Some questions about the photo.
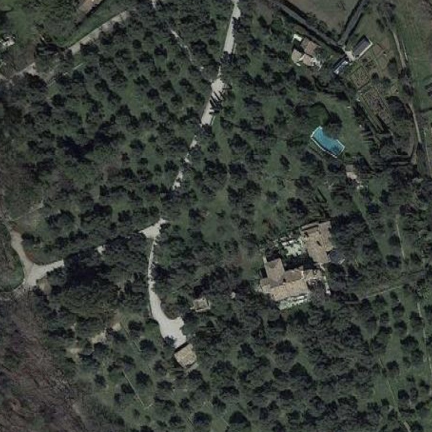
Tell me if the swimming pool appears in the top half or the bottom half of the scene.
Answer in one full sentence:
The top half of the photo is where the swimming pool is.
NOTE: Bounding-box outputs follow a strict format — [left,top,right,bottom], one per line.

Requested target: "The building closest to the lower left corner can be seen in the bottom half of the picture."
[175,343,197,369]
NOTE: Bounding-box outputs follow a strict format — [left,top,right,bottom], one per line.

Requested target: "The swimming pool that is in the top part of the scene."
[310,126,345,158]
